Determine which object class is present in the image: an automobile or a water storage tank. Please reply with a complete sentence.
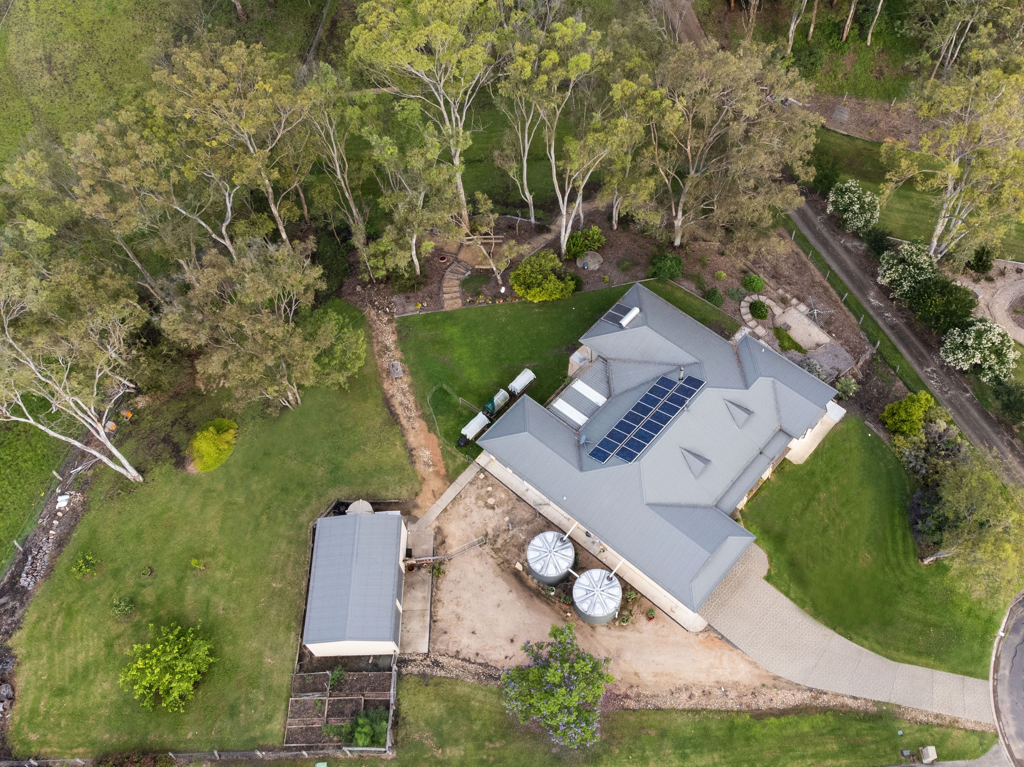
This aerial view contains a water storage tank.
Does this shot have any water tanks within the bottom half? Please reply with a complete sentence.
Yes, within the bottom half there is a water tank.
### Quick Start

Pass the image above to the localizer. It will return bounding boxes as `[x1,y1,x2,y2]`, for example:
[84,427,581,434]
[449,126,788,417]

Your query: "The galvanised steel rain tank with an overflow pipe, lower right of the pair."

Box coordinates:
[571,560,624,624]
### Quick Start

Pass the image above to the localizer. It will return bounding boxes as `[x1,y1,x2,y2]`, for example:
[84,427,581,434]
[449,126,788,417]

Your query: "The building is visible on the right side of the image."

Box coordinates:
[475,282,838,616]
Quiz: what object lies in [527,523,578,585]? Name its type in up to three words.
water tank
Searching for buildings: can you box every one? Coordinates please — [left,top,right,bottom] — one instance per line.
[475,282,838,616]
[302,512,407,654]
